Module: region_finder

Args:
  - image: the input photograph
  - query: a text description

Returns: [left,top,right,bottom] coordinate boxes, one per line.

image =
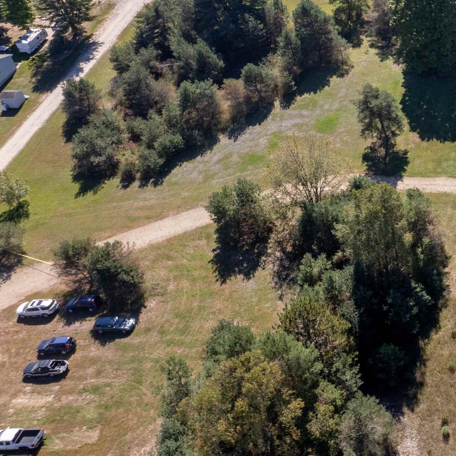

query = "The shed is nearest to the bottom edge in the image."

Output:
[0,88,27,107]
